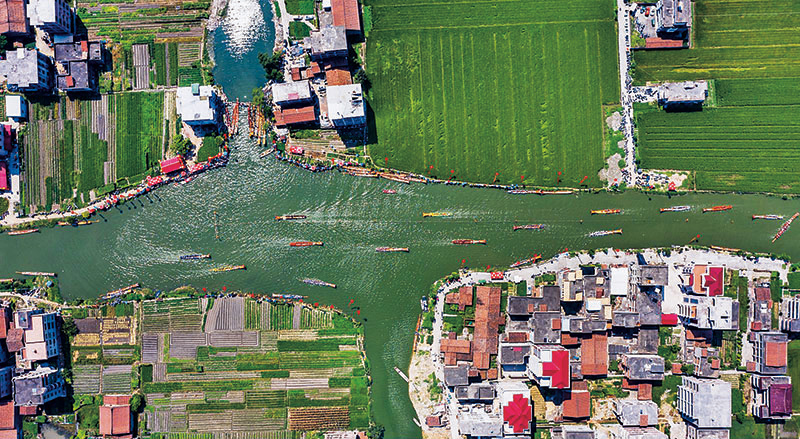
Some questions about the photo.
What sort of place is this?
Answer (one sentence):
What you see here is a residential area.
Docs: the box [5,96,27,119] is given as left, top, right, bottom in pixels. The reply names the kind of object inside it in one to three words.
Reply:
house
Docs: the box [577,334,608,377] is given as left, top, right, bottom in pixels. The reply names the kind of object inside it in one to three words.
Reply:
building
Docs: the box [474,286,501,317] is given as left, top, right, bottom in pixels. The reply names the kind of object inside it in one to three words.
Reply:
building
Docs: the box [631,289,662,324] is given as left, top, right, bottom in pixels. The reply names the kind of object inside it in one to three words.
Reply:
house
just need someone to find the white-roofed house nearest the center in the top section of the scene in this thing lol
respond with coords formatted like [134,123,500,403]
[327,84,367,128]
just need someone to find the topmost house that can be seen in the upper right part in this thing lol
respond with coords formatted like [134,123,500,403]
[652,0,691,33]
